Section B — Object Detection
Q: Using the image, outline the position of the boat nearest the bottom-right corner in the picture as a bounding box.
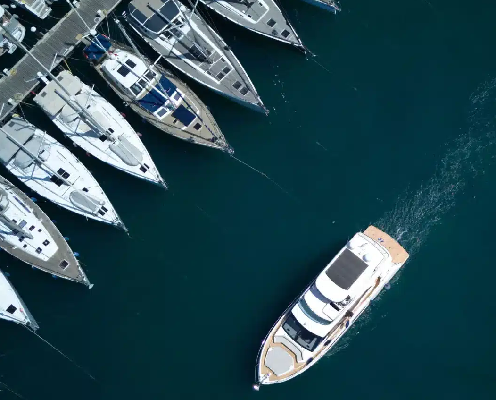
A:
[254,230,406,388]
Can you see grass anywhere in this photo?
No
